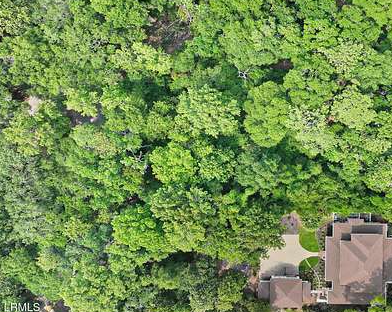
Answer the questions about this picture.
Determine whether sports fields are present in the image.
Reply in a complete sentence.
No, there isn't any sports field down there.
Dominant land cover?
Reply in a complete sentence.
Most of the picture is covered by trees.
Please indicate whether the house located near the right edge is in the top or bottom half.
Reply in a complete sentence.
You can find the house located near the right edge in the bottom half.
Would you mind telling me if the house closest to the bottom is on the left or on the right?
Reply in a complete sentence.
It is on the right.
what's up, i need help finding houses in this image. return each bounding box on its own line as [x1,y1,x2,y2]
[322,216,392,305]
[258,274,311,309]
